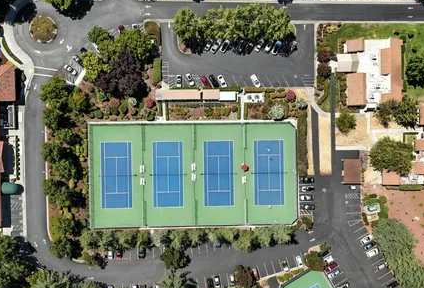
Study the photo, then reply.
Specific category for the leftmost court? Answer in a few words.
tennis court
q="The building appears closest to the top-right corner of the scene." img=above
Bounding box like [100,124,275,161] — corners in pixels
[335,36,403,111]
